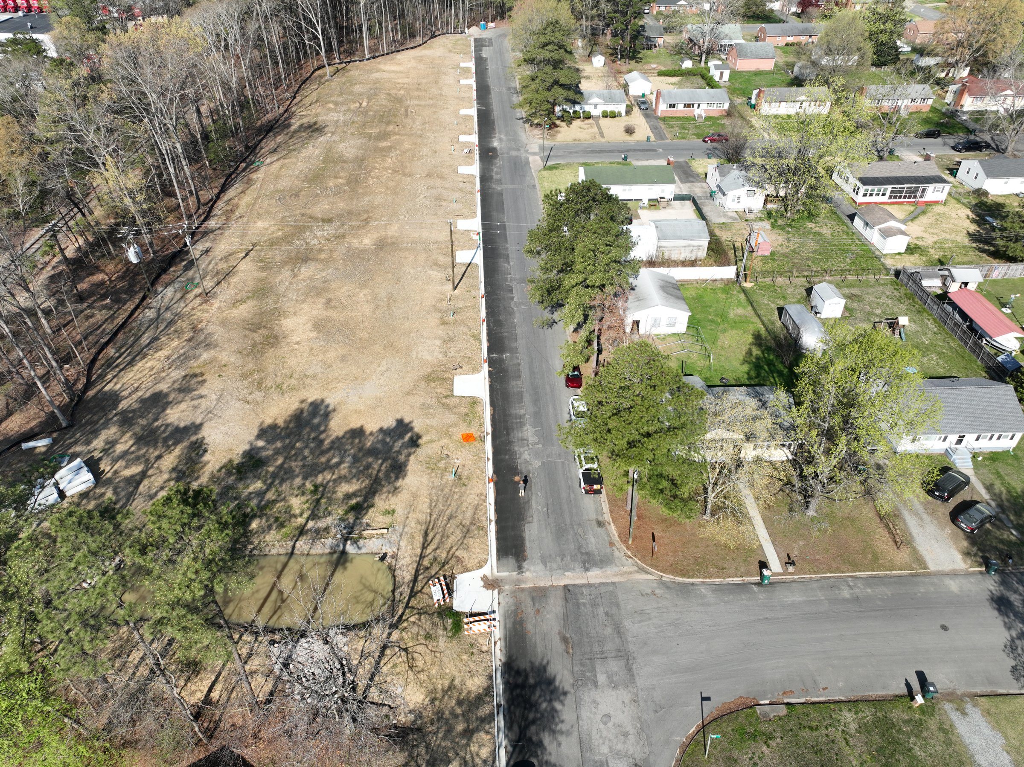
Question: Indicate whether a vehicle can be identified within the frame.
Yes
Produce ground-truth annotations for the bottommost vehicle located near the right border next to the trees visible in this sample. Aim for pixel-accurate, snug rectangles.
[958,493,1001,536]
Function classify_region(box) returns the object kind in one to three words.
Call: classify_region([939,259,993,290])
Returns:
shed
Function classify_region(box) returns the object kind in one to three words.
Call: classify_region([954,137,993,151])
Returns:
vehicle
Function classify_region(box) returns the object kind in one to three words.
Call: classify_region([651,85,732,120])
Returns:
house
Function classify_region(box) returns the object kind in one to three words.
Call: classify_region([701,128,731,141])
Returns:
vehicle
